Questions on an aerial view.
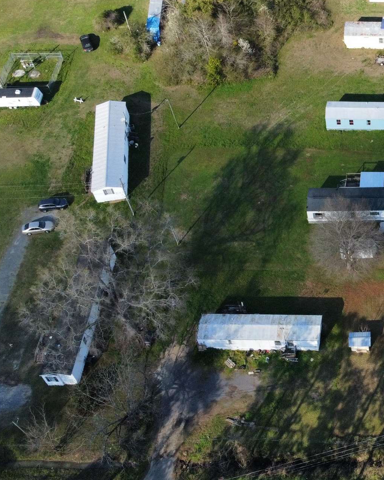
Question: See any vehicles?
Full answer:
Yes, you can see a vehicle in this photo.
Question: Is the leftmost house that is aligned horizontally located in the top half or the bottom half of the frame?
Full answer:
The leftmost house that is aligned horizontally is in the bottom half of the image.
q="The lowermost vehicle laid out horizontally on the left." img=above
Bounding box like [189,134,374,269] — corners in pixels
[21,220,55,237]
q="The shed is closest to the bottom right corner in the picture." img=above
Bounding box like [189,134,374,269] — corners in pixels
[349,330,371,356]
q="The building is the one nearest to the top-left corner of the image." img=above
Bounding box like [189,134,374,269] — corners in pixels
[85,99,139,204]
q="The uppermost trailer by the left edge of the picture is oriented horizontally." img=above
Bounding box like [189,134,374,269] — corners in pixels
[0,85,47,107]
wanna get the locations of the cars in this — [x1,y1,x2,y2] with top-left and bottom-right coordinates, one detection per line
[80,35,94,54]
[21,220,55,237]
[37,197,70,214]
